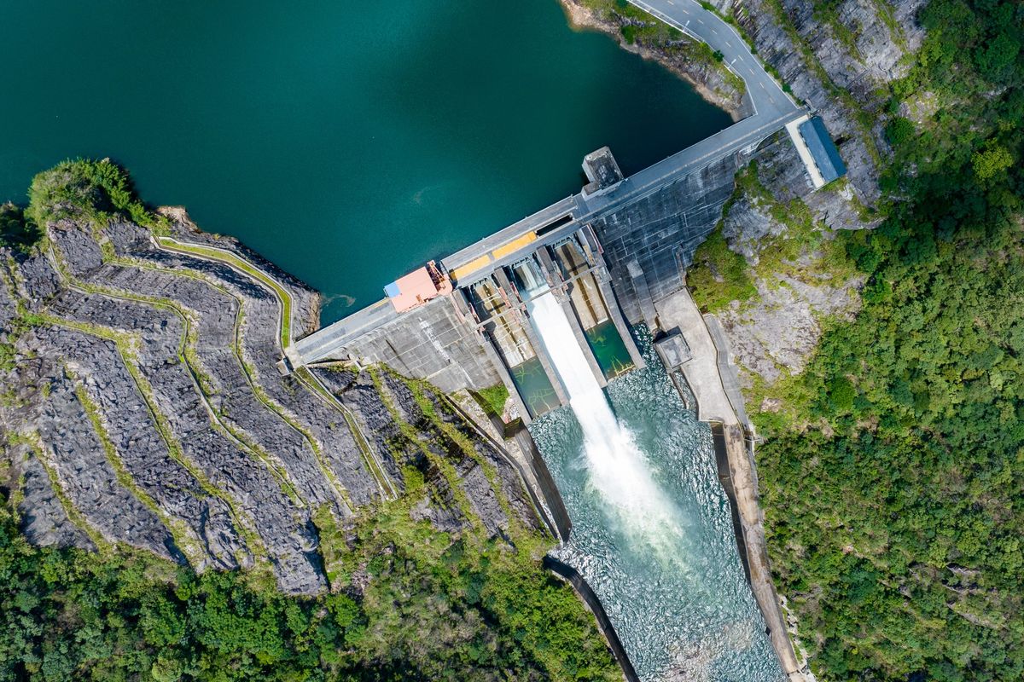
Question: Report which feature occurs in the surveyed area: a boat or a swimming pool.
swimming pool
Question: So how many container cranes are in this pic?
1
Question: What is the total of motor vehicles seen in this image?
0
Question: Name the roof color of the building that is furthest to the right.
blue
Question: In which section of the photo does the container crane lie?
center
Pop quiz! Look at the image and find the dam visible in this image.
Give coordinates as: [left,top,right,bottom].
[292,110,799,421]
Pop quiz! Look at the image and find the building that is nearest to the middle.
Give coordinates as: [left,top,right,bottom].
[653,332,691,369]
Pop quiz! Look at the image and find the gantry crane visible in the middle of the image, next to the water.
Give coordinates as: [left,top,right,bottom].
[386,261,456,316]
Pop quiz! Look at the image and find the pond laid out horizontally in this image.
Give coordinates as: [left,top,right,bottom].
[0,0,737,334]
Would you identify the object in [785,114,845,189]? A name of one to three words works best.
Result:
building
